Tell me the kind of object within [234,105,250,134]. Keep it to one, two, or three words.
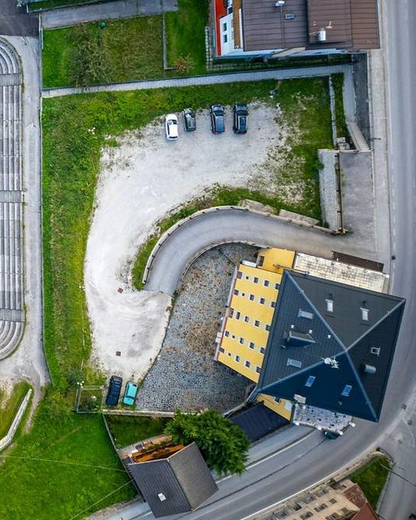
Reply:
car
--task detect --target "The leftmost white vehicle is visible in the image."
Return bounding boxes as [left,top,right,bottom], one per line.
[166,113,181,140]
